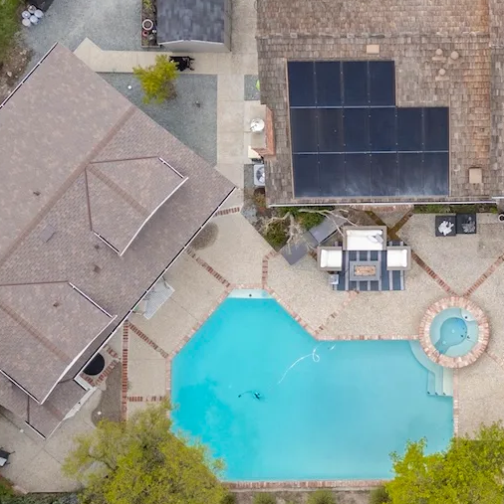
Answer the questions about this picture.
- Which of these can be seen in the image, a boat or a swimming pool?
swimming pool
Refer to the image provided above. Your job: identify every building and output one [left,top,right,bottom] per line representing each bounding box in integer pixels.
[0,42,237,439]
[156,0,232,53]
[243,0,504,206]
